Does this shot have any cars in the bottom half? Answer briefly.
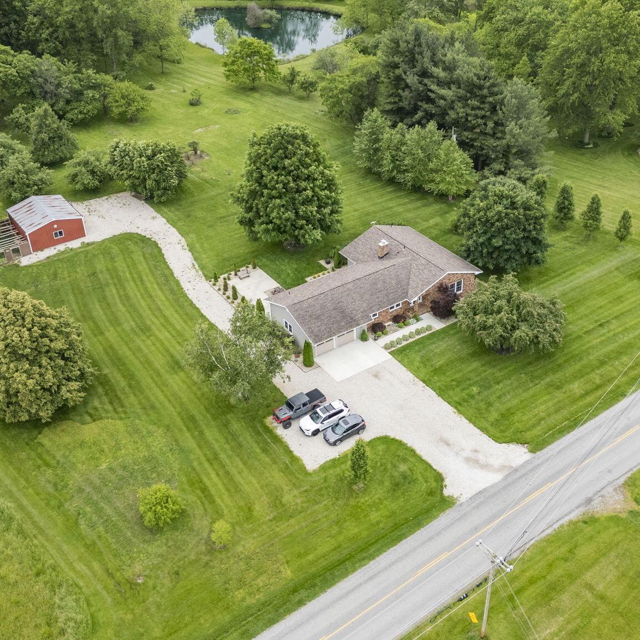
Yes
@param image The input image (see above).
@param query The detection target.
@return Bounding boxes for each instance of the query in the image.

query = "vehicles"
[296,399,347,437]
[271,390,326,428]
[321,412,367,446]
